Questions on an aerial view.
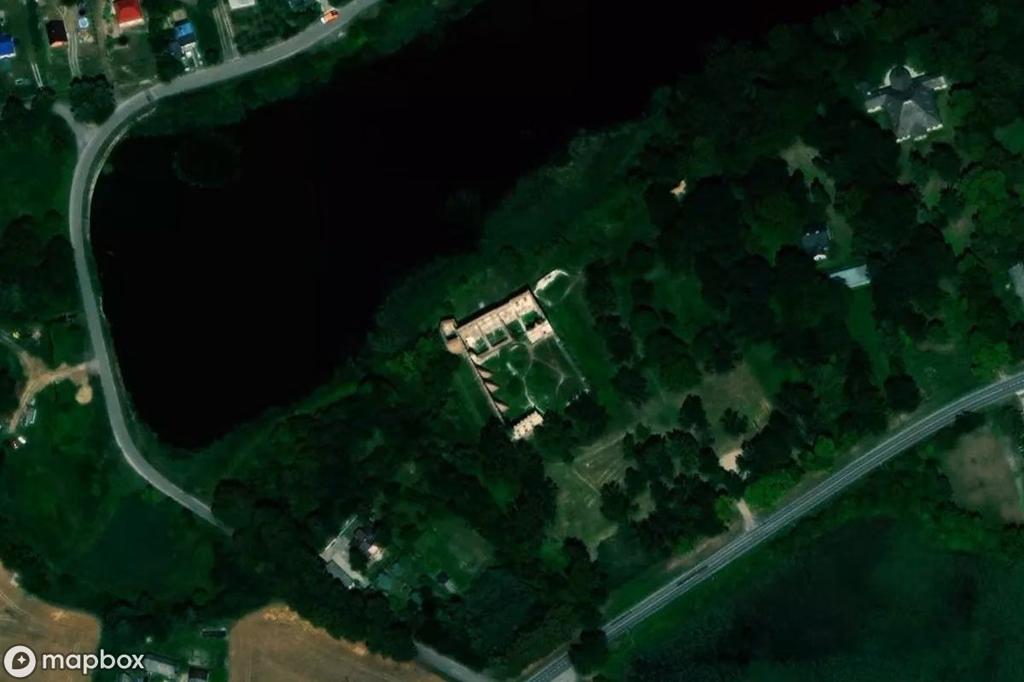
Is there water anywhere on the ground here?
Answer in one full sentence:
Yes, some water is visible.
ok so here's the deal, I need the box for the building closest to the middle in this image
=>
[442,289,555,429]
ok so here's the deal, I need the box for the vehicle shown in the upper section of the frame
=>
[321,10,339,22]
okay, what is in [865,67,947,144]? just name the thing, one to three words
house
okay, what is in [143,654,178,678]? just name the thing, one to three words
barn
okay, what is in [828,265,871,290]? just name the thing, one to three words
barn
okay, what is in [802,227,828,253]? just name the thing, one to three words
house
